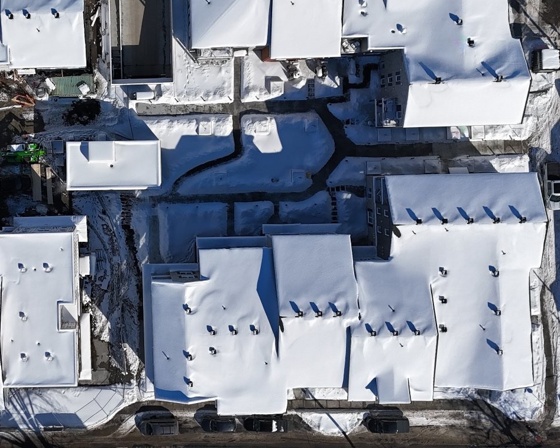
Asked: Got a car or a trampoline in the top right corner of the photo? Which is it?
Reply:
car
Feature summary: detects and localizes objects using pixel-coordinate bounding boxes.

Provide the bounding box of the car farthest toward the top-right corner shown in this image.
[528,49,560,70]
